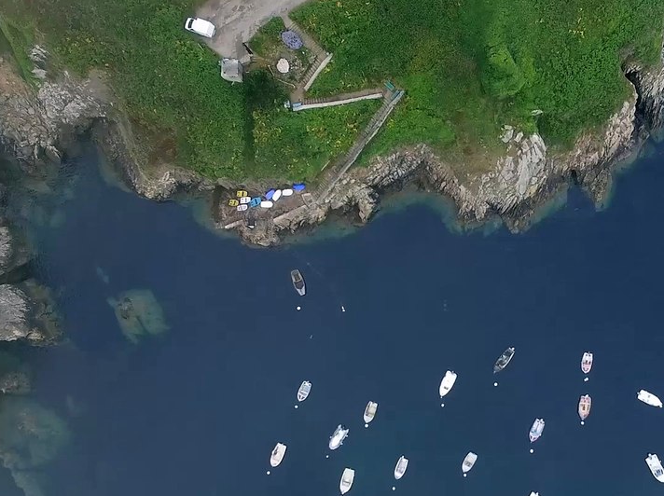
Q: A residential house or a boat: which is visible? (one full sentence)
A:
It is a boat that can be seen here.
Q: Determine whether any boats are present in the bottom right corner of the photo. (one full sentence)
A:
Yes, you'll find a boat in the bottom right corner of the photo.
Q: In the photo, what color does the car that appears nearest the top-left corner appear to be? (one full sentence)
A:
In this view, the car that appears nearest the top-left corner is white.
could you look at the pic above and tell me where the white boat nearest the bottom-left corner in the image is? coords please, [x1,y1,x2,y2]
[269,442,287,472]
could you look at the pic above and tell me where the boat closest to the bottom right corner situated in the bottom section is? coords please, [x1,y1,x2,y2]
[647,454,664,483]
